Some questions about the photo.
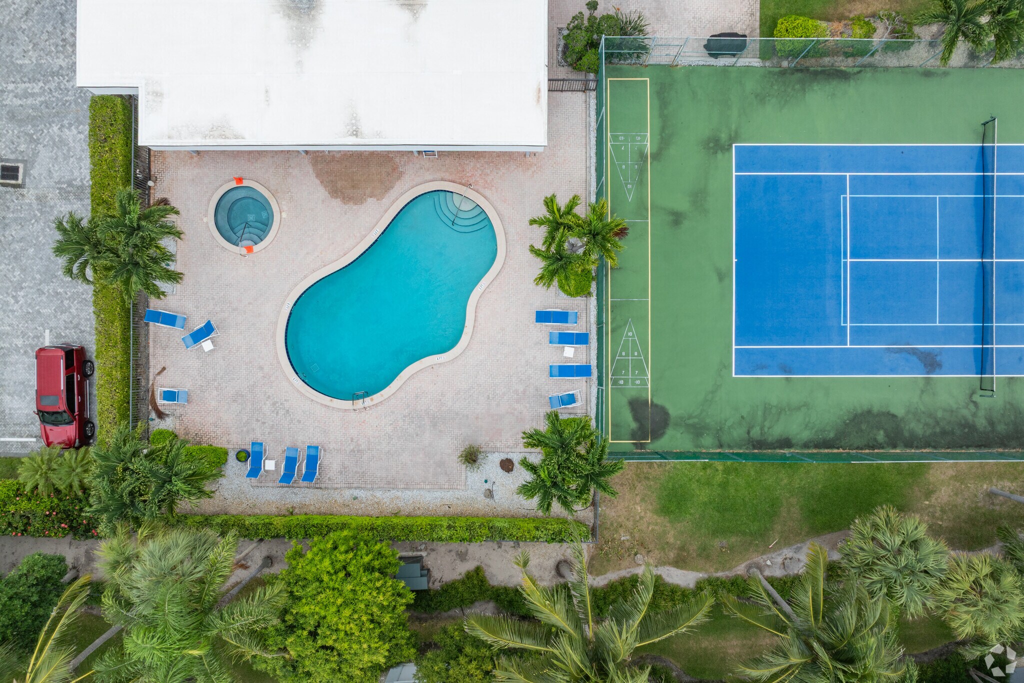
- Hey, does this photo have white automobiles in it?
No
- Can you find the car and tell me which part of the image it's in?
left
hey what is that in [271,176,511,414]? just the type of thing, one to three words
swimming pool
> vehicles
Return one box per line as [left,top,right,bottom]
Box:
[33,342,97,449]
